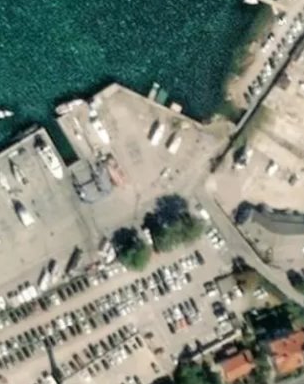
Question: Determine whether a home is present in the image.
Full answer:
Yes, the picture does show a home.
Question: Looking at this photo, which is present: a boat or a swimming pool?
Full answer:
This aerial view contains a boat.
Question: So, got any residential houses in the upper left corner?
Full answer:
No, I see no residential house in the upper left corner.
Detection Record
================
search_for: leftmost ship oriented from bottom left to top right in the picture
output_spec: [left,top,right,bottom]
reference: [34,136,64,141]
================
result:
[10,124,37,144]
